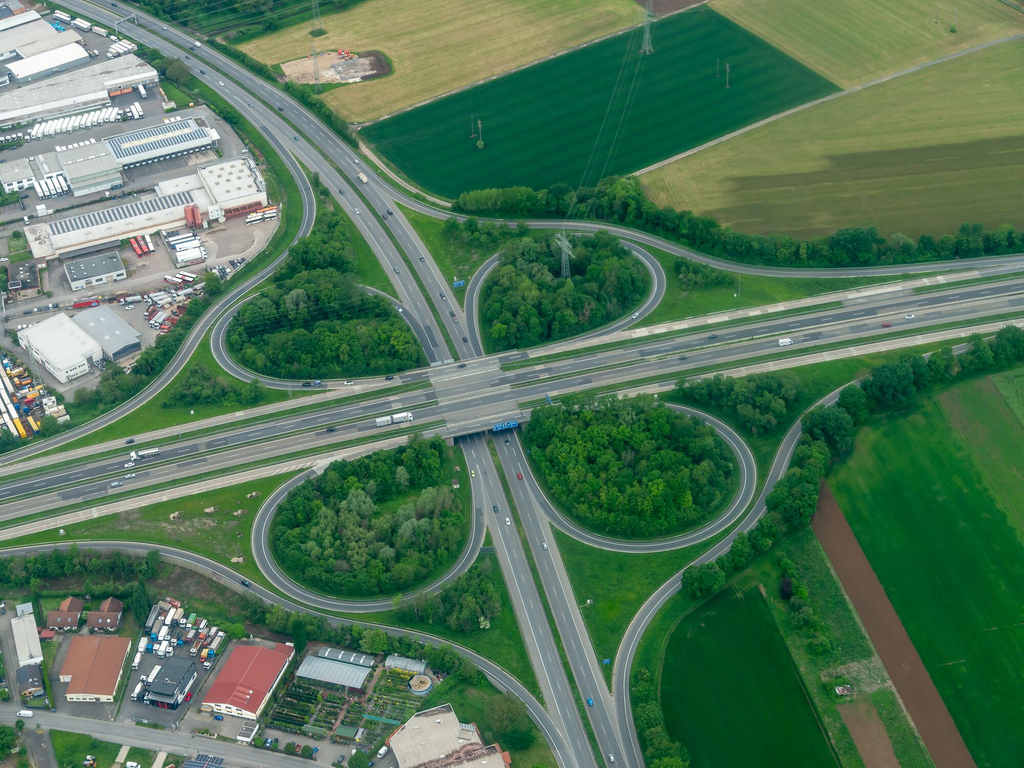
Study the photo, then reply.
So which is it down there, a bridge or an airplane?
bridge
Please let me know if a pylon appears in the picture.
Yes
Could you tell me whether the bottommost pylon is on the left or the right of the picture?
left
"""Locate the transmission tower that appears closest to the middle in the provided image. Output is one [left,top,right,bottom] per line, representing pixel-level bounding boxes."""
[548,228,582,281]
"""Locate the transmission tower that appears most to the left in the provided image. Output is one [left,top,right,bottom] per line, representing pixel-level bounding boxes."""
[23,333,47,407]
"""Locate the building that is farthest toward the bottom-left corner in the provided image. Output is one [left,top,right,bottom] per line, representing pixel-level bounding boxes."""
[16,662,45,702]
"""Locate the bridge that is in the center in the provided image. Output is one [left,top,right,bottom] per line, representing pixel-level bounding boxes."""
[413,347,527,442]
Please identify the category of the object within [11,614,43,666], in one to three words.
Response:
shed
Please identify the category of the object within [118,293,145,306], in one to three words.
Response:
vehicle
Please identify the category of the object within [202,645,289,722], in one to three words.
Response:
building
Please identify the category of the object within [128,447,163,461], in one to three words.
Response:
vehicle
